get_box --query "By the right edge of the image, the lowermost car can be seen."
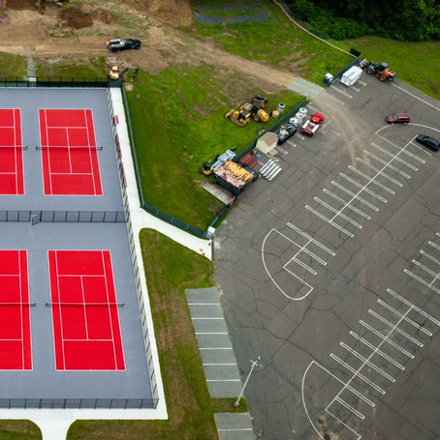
[416,135,440,152]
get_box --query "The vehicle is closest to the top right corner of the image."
[361,61,391,82]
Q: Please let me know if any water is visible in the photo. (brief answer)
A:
No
